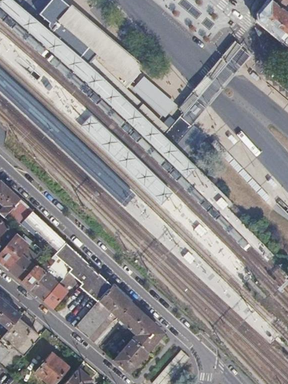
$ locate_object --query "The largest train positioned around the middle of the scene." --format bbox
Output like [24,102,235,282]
[48,54,250,250]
